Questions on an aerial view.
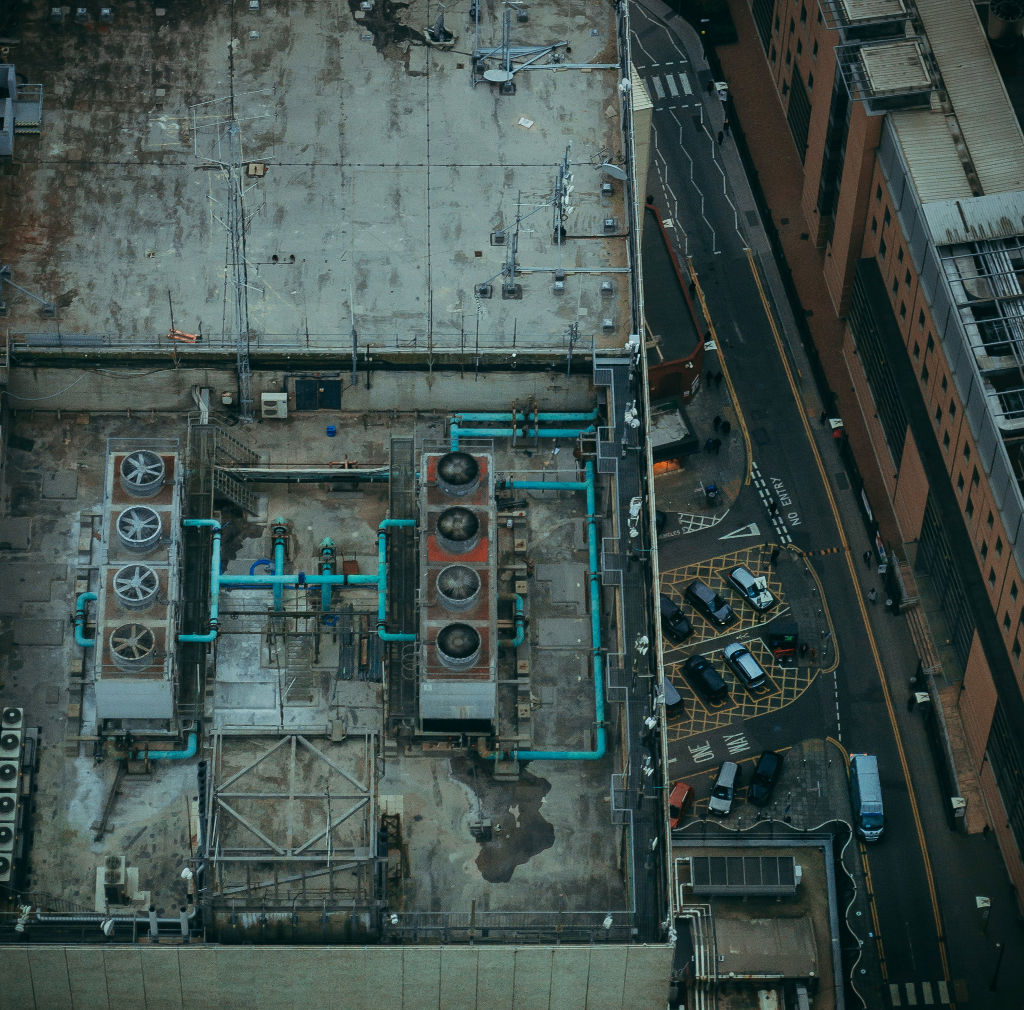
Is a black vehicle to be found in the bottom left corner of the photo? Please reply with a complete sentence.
No, I see no black vehicle in the bottom left corner of the photo.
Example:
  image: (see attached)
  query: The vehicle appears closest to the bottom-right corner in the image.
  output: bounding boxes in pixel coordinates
[851,753,887,840]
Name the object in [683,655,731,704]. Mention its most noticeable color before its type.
black car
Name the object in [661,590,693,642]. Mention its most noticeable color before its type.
black car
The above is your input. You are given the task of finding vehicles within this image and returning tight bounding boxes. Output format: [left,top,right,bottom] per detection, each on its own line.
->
[683,655,731,704]
[656,506,678,533]
[672,781,695,829]
[851,753,887,840]
[708,762,741,816]
[722,644,769,693]
[728,566,774,612]
[661,590,693,642]
[684,577,735,628]
[665,672,687,716]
